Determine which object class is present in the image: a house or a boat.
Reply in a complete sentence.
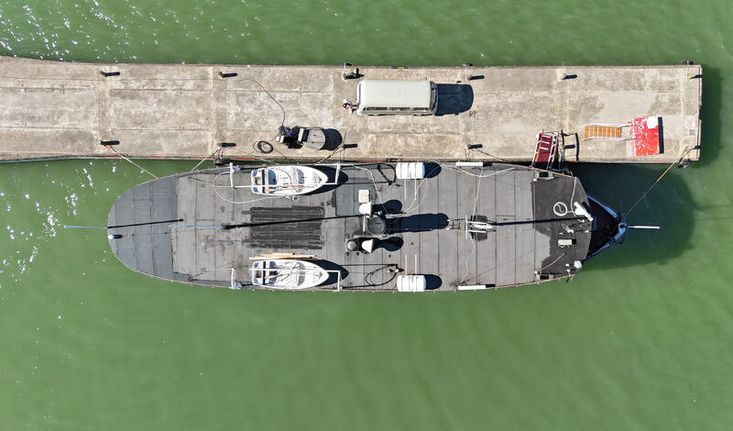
This aerial view contains a boat.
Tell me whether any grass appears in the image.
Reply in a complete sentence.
No, grass can't be seen anywhere here.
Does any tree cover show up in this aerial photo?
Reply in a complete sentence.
No, there's no tree cover in this view.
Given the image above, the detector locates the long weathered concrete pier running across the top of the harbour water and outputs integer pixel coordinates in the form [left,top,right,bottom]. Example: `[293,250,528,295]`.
[0,55,702,164]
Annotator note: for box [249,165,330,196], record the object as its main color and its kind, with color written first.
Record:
white boat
